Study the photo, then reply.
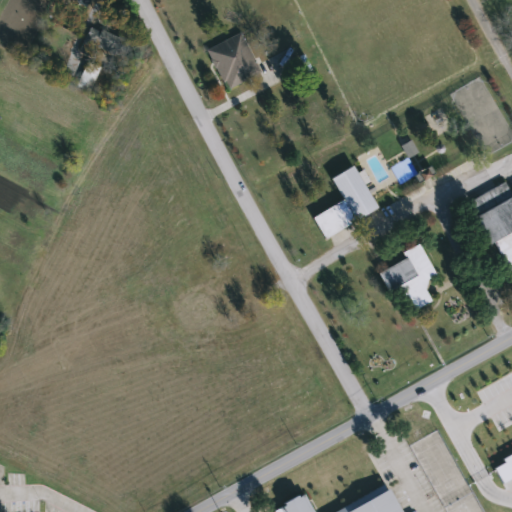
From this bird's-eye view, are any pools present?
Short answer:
Yes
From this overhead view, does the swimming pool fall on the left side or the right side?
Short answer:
right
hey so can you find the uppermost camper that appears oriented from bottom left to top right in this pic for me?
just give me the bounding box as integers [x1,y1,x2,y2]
[278,47,294,66]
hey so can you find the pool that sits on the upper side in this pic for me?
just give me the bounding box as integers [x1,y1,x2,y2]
[358,148,394,194]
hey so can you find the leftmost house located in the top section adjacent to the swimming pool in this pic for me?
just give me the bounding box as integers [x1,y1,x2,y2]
[314,166,380,239]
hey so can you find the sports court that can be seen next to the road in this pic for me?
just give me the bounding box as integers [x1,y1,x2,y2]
[450,76,512,156]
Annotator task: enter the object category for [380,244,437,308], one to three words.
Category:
house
